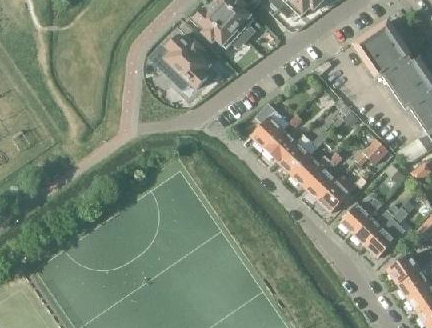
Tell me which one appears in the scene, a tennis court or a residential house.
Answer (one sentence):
I can see a residential house in this picture.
